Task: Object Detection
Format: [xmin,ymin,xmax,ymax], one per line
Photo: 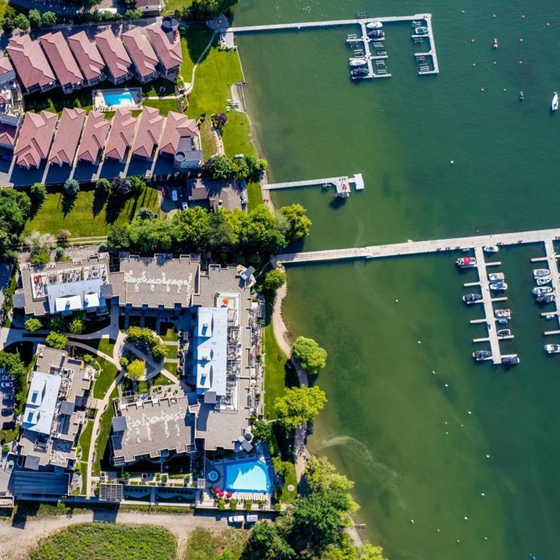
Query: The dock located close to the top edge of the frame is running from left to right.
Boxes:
[228,12,439,79]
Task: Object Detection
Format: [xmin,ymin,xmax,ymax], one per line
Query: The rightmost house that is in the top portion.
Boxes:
[209,183,242,216]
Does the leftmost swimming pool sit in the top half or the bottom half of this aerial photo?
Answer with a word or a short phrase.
top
